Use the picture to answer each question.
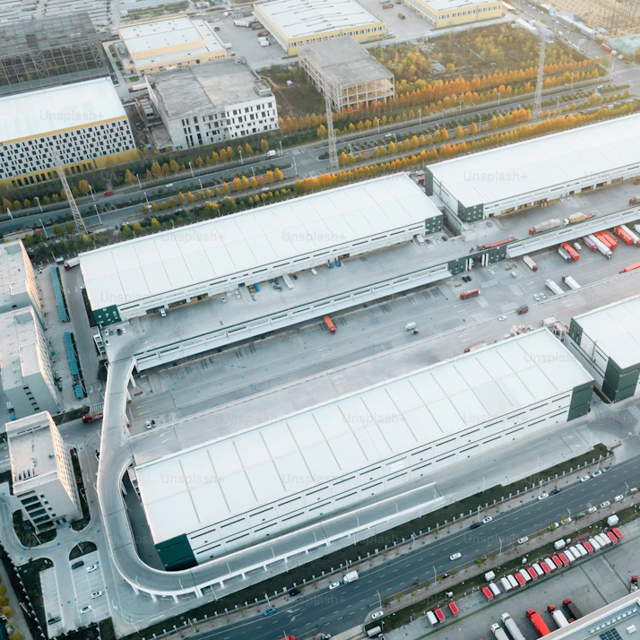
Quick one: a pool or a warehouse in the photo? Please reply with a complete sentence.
This aerial view contains a warehouse.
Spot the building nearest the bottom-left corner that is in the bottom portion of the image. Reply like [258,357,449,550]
[2,404,82,536]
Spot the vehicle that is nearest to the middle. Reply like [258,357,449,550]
[322,315,337,335]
